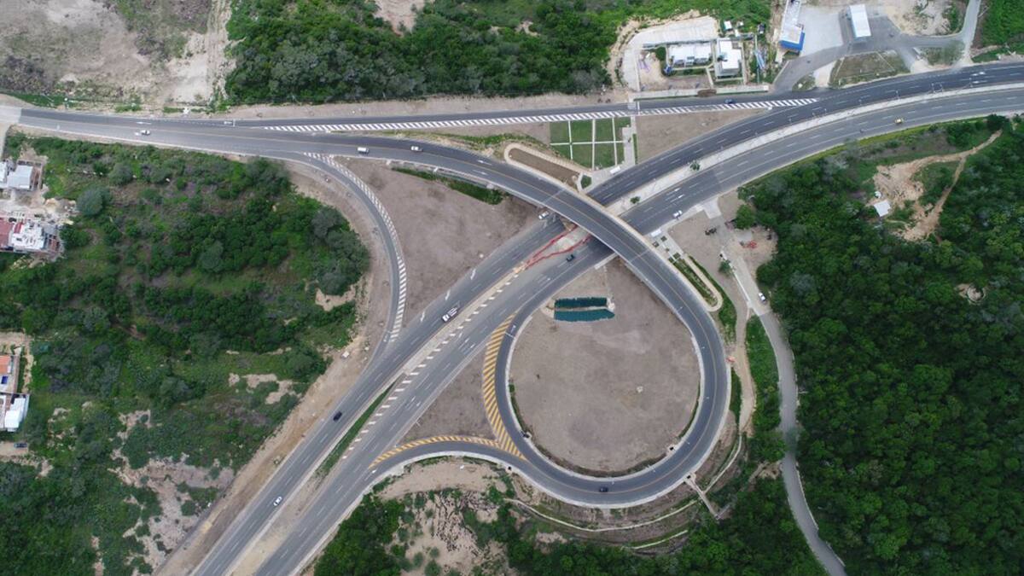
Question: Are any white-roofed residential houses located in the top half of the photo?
Yes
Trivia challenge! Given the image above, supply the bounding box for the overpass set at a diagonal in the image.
[546,186,650,269]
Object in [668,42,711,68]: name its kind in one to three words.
house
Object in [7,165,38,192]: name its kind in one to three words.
house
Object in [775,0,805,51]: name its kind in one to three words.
building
